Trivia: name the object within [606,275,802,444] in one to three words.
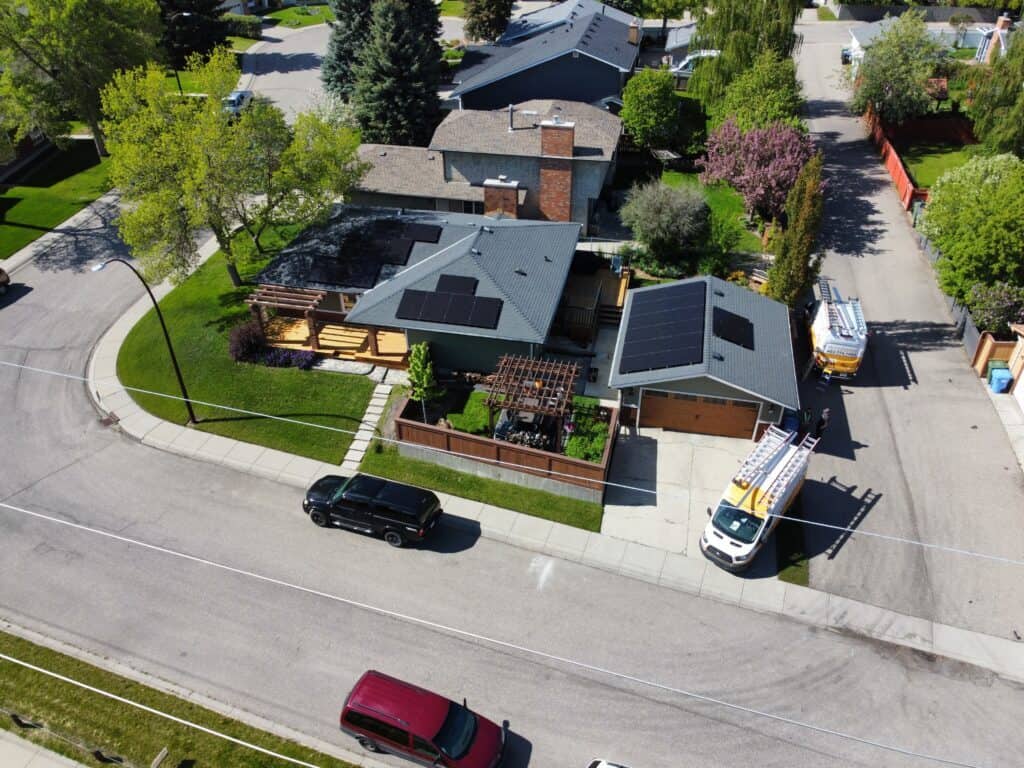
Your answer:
building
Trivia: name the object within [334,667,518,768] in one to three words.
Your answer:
car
